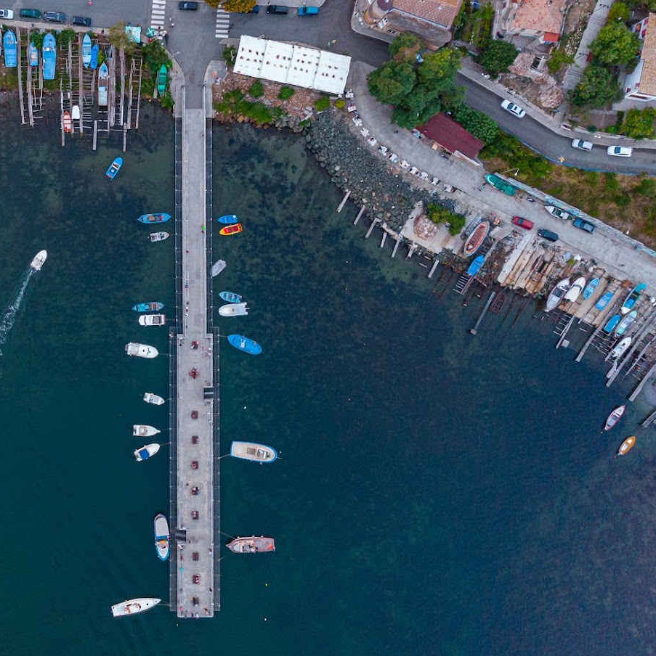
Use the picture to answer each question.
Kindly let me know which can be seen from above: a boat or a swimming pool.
boat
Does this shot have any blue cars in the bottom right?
No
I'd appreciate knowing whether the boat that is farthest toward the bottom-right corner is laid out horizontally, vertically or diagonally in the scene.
diagonally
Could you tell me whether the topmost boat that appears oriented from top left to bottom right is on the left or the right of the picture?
right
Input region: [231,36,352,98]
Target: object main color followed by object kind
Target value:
white tent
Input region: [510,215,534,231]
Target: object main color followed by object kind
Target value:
red car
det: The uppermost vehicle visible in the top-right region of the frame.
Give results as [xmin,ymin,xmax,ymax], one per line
[499,100,527,121]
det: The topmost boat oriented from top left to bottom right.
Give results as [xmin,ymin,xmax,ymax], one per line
[484,173,519,198]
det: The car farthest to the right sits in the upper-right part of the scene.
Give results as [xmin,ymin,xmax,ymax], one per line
[605,144,632,158]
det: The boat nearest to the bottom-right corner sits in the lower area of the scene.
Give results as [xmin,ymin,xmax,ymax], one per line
[615,436,636,458]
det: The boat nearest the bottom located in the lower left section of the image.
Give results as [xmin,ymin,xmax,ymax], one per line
[111,598,169,617]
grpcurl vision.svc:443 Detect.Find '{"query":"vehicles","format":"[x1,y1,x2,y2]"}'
[297,4,319,18]
[237,4,259,17]
[0,7,15,21]
[605,144,632,158]
[569,137,593,153]
[535,228,559,242]
[570,217,597,235]
[510,215,534,231]
[72,15,92,28]
[20,6,42,20]
[178,0,197,13]
[266,3,289,17]
[43,10,67,24]
[499,100,527,121]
